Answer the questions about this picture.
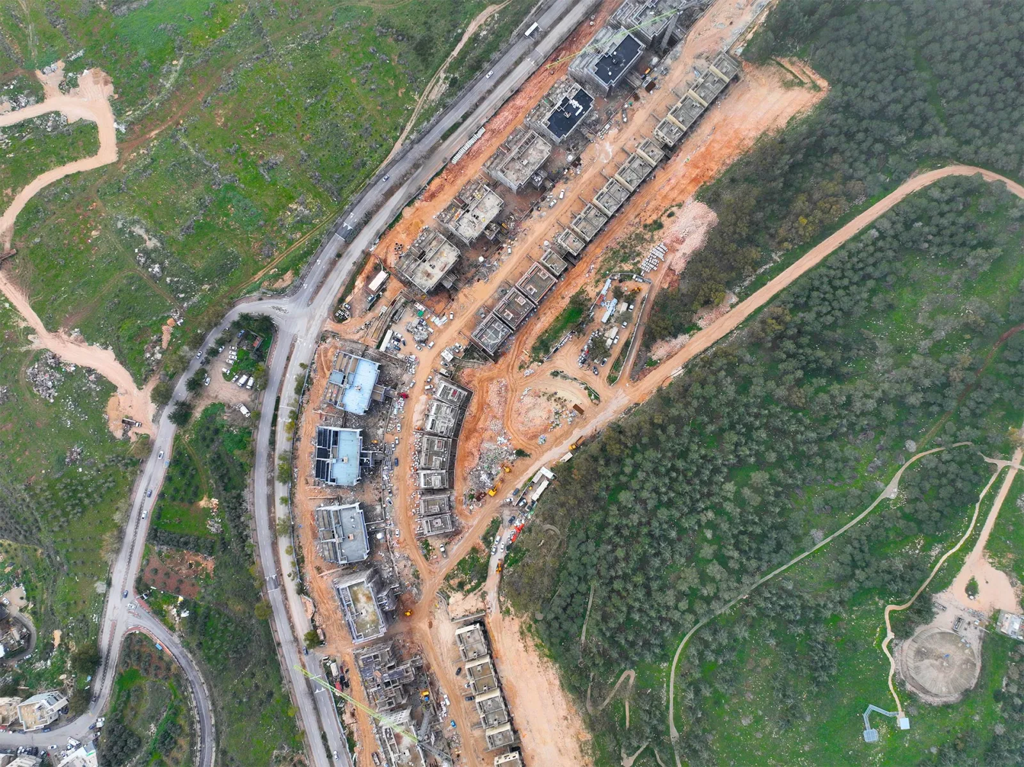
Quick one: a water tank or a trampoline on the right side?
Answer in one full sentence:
What appears on the right side is a water tank.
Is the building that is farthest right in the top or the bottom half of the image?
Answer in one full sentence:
You can find the building that is farthest right in the bottom half.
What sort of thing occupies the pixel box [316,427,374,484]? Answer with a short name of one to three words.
building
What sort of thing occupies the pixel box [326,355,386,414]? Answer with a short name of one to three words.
building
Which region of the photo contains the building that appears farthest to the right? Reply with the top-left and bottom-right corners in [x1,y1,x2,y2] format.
[994,610,1024,638]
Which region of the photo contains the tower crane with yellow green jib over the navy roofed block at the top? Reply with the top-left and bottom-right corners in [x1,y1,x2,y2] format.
[547,0,705,68]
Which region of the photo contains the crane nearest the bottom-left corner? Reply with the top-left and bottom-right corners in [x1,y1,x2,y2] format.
[294,665,453,762]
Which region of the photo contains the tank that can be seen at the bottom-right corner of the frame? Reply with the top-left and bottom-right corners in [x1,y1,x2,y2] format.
[907,629,975,696]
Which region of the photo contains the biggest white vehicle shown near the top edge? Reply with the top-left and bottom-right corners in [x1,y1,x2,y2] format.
[525,21,539,37]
